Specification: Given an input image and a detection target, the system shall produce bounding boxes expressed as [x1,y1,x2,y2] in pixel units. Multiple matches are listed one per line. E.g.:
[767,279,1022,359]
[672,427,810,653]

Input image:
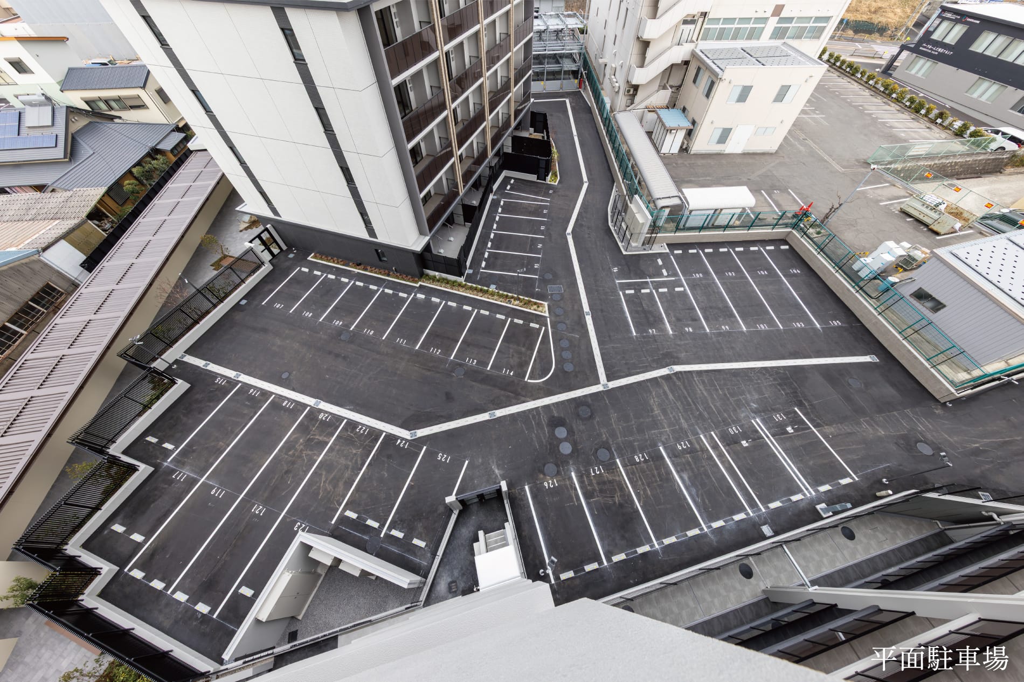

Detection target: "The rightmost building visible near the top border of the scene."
[882,0,1024,124]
